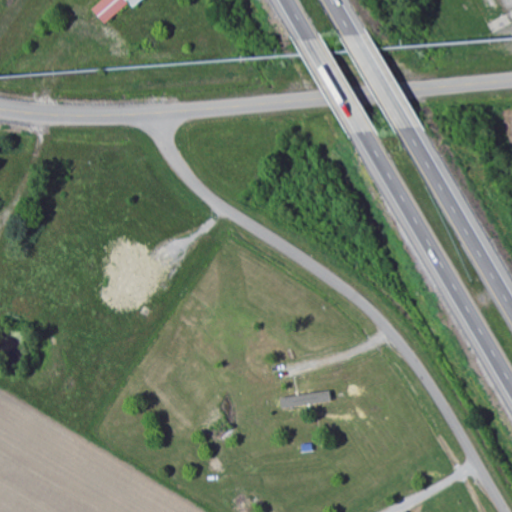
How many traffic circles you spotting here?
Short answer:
0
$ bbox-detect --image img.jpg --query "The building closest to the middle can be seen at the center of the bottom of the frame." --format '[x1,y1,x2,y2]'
[280,392,332,408]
